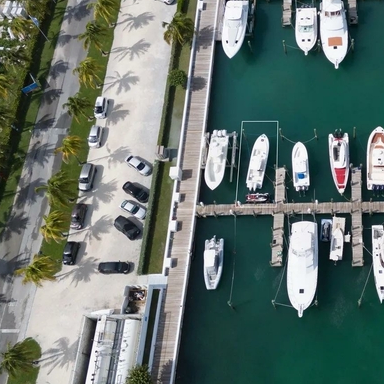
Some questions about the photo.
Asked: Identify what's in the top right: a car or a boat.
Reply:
boat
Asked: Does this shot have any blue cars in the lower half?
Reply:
No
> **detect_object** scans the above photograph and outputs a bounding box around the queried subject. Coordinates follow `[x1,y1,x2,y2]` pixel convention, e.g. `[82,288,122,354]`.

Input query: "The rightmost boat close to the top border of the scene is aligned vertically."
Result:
[318,0,349,68]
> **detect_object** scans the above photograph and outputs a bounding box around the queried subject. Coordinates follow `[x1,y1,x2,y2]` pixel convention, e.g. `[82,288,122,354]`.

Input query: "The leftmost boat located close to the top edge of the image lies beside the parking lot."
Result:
[221,0,248,59]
